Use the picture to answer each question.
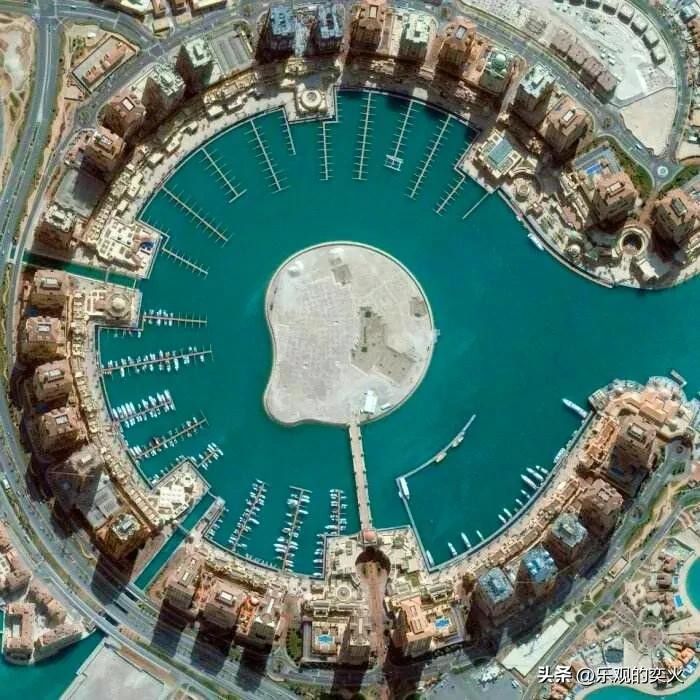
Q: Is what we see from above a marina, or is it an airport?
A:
marina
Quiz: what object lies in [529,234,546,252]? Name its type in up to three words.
boat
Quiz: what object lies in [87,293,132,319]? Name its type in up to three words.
building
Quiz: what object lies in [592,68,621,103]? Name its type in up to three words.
building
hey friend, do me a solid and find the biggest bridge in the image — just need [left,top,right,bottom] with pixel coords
[347,421,373,532]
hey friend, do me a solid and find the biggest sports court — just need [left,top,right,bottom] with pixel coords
[663,537,695,560]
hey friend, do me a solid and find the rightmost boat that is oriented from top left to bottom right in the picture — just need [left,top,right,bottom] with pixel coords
[563,400,588,418]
